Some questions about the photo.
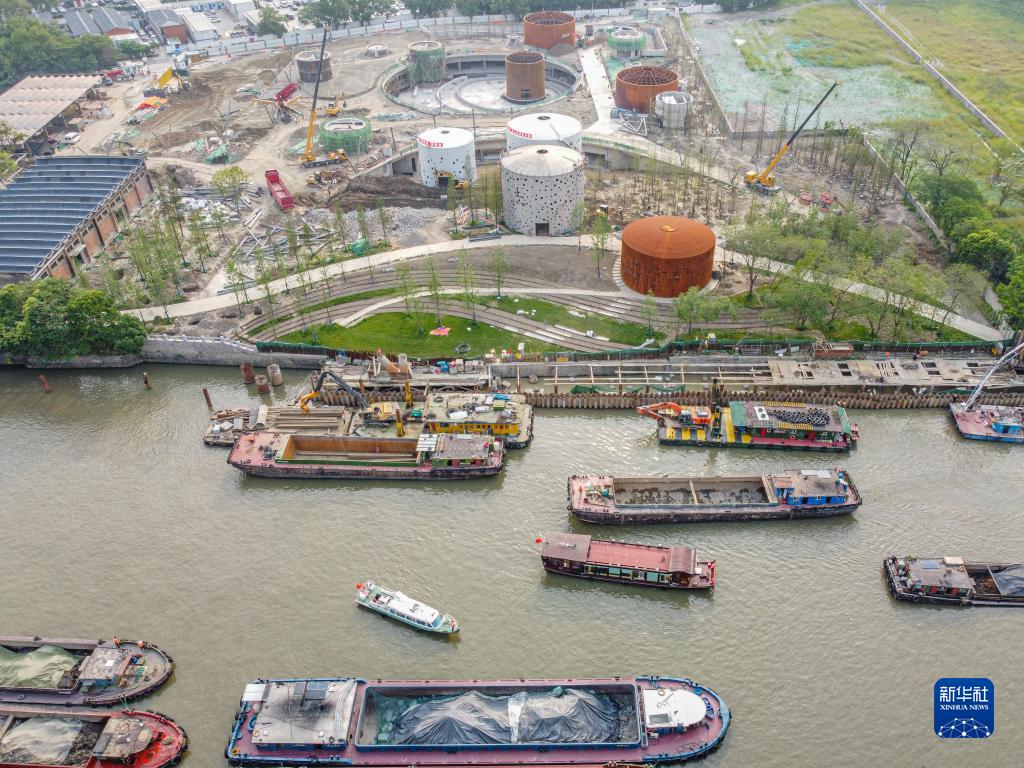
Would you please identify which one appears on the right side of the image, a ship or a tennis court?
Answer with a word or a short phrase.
ship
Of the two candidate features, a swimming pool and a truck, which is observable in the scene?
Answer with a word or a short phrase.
truck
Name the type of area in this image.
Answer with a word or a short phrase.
industrial area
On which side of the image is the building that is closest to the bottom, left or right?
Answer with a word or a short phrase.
left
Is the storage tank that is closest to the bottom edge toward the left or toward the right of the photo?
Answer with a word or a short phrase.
right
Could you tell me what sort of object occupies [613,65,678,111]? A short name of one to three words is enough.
storage tank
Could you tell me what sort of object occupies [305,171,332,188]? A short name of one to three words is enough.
work vehicle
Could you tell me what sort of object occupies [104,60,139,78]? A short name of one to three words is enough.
vehicle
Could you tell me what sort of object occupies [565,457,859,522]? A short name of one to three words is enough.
ship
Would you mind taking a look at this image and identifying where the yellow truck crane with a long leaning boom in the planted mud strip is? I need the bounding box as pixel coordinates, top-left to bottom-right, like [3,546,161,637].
[737,81,841,196]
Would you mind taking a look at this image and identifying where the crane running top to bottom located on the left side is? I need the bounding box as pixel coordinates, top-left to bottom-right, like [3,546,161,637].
[300,26,353,171]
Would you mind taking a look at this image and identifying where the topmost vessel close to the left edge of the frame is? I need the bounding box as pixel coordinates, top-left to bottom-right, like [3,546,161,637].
[0,637,178,710]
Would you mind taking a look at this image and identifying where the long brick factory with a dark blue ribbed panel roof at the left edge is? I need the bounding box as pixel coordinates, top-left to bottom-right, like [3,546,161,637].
[0,153,154,289]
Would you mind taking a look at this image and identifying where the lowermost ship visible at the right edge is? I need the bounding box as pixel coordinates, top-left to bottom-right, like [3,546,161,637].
[881,552,1024,605]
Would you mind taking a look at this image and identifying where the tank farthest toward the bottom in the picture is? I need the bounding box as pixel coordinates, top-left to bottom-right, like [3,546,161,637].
[618,214,717,296]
